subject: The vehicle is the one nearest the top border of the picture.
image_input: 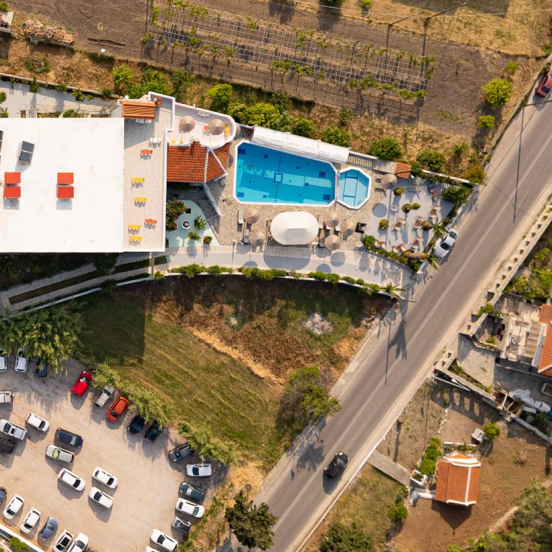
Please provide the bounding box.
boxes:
[534,66,552,99]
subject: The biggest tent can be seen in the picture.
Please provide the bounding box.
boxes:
[268,210,317,245]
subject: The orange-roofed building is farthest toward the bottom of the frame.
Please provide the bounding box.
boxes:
[425,444,482,512]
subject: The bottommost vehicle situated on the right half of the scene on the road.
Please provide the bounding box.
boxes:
[322,450,345,478]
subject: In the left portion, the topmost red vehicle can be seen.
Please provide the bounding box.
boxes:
[70,369,89,398]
